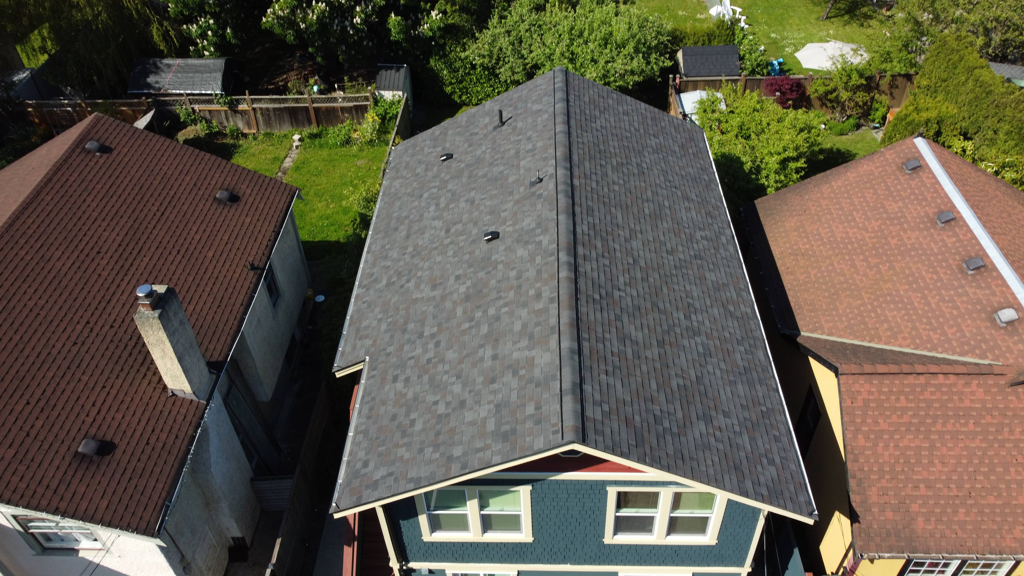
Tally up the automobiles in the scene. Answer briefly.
none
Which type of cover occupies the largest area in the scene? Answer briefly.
buildings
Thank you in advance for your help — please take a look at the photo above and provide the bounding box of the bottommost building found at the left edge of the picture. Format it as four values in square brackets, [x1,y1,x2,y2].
[0,112,311,576]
